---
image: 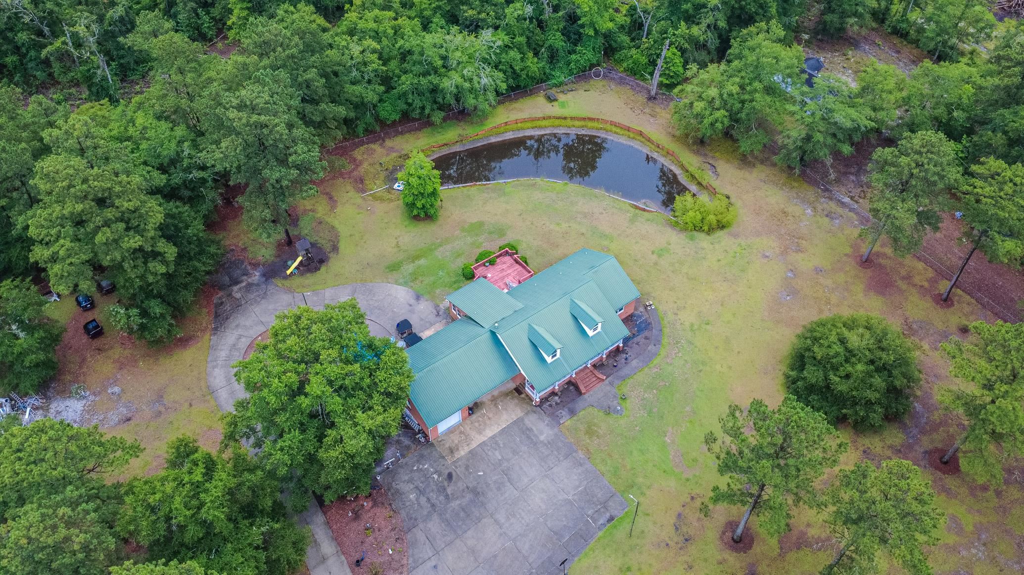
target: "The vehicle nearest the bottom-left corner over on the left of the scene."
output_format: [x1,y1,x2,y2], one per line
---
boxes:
[79,317,103,340]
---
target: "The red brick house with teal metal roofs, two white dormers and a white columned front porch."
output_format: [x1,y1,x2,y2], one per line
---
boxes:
[383,248,642,446]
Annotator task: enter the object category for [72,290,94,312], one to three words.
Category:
car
